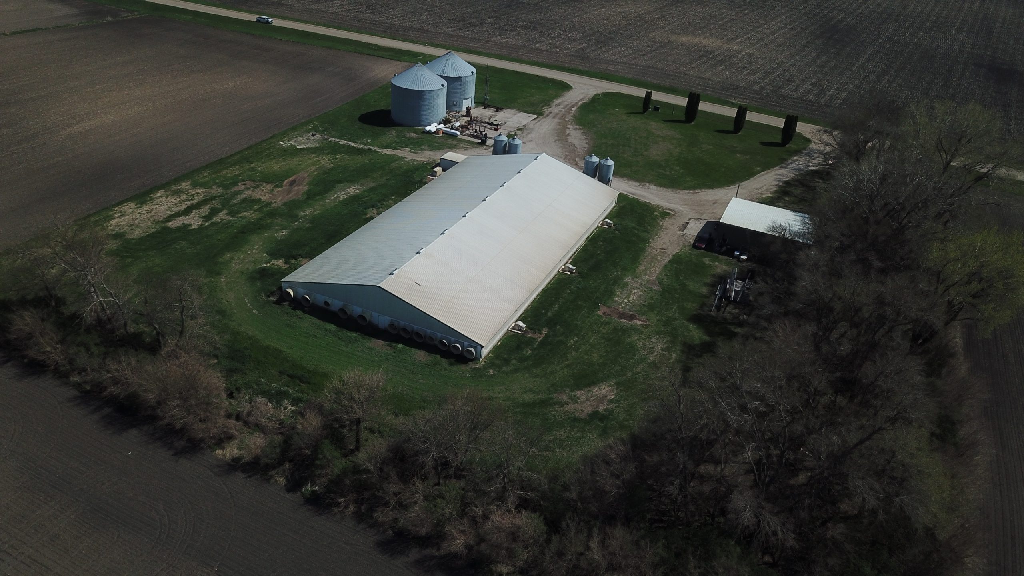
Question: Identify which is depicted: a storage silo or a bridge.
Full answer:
I can see a storage silo in this picture.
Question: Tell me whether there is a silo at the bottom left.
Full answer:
No, no silo appears at the bottom left.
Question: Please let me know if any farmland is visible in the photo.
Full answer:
Yes, some farmland is visible.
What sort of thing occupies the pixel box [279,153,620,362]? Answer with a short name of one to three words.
barn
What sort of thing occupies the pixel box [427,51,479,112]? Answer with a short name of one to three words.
silo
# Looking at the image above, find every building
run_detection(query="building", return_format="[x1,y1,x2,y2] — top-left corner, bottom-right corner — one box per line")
[279,153,620,362]
[716,196,819,264]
